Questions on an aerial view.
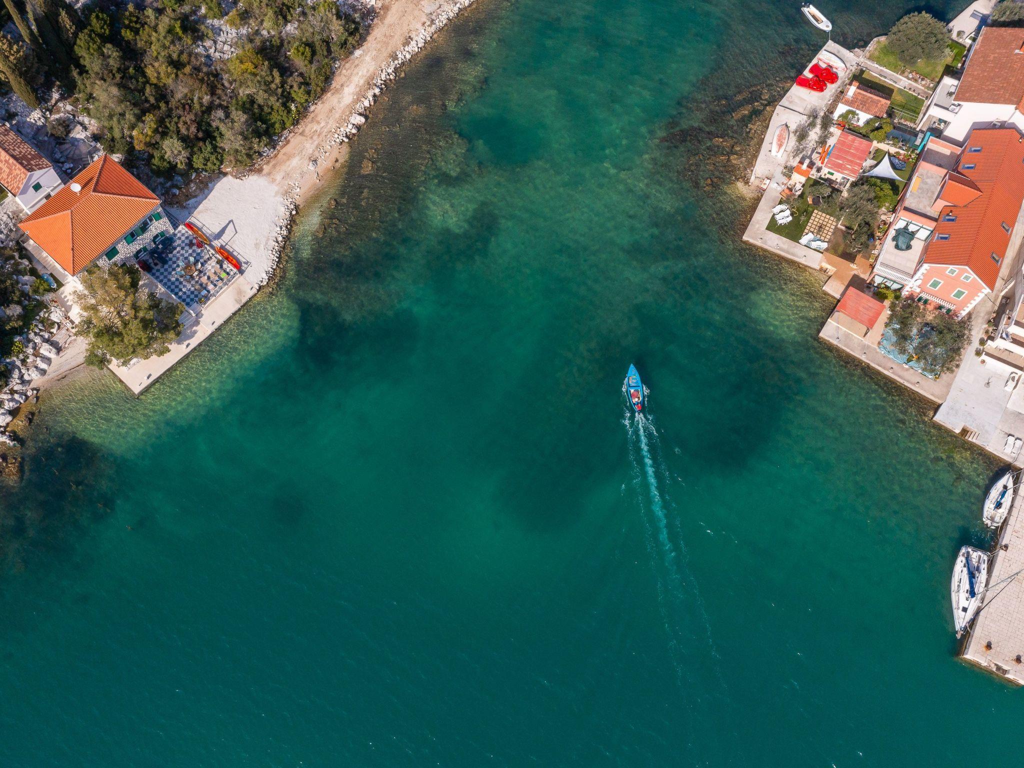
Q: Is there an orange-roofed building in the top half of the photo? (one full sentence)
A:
Yes, an orange-roofed building appears in the top half of the photo.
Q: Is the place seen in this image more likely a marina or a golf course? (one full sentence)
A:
This looks like a marina.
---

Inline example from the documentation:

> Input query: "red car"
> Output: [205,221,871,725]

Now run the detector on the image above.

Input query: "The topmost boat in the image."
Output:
[799,2,831,34]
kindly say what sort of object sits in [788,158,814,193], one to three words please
house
